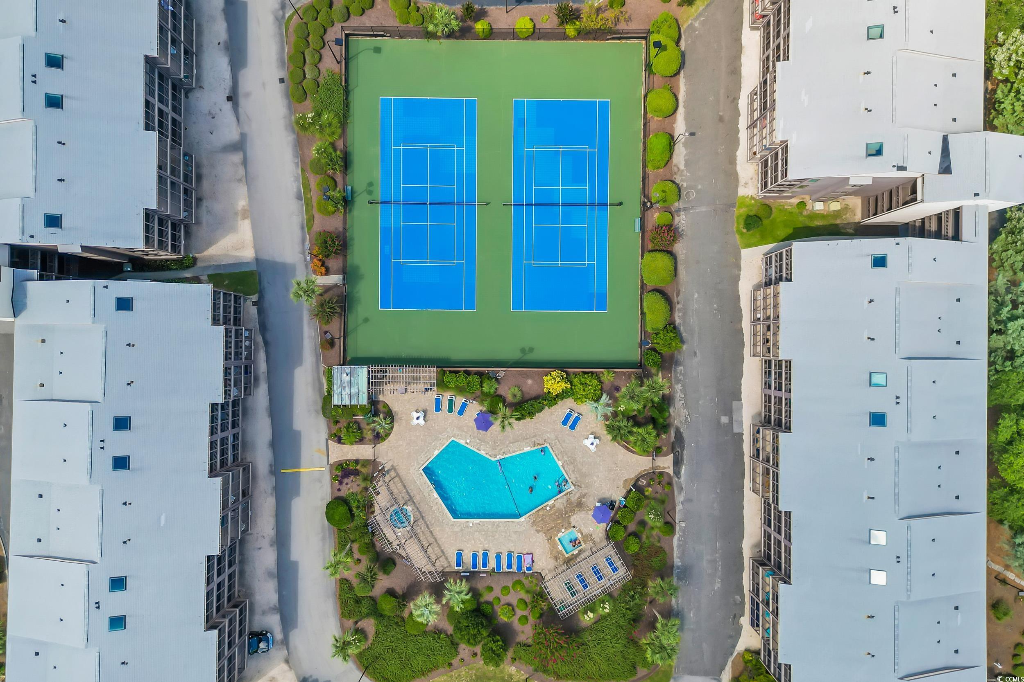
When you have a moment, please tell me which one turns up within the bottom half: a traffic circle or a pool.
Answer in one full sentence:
What appears within the bottom half is a pool.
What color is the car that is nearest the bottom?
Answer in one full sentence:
In this view, the car that is nearest the bottom is blue.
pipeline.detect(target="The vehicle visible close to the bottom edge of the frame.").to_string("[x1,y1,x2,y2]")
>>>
[250,635,277,657]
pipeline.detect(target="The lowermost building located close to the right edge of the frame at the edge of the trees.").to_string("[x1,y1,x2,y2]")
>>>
[747,236,987,682]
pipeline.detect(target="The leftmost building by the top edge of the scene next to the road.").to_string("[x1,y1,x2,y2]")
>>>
[0,0,199,264]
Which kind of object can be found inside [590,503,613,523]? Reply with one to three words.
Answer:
umbrella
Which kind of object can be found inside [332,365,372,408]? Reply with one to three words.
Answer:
shed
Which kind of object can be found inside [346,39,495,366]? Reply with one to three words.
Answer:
tennis court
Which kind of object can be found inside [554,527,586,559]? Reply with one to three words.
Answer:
swimming pool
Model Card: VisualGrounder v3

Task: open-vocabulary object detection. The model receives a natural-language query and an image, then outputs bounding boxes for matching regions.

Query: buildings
[745,0,985,205]
[0,0,199,264]
[747,236,987,682]
[11,277,258,682]
[332,365,372,408]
